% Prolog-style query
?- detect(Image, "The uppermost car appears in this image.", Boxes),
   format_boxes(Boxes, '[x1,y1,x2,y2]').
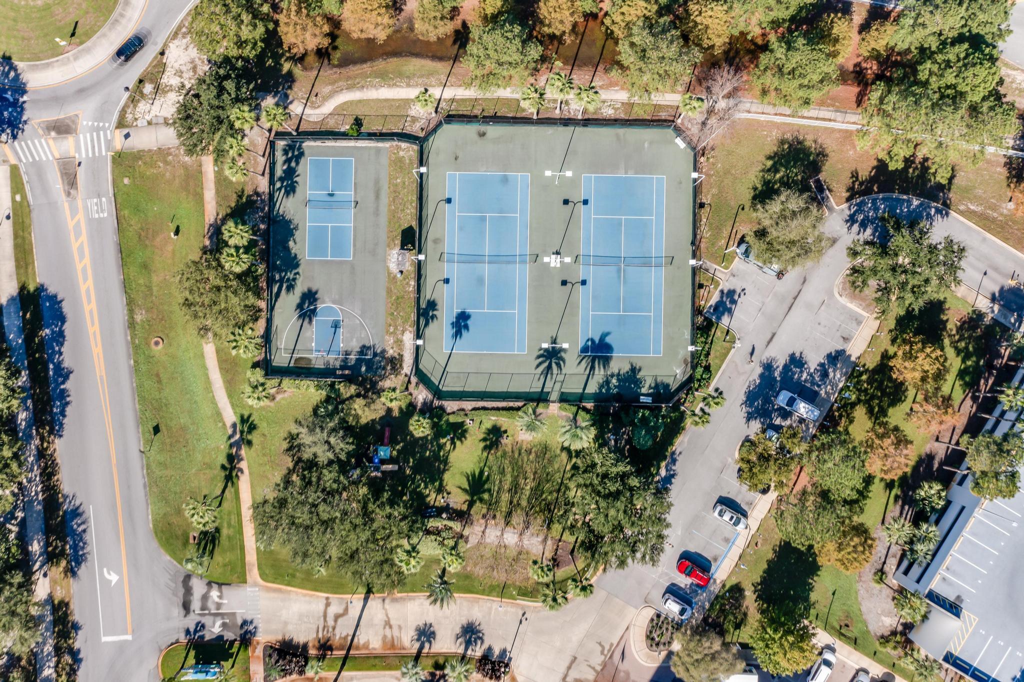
[111,33,149,66]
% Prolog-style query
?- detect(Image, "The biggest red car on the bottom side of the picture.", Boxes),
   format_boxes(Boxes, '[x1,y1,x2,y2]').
[675,558,713,588]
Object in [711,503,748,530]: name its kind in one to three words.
car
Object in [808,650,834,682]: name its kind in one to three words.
car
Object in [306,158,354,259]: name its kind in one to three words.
sports court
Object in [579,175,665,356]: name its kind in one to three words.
tennis court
